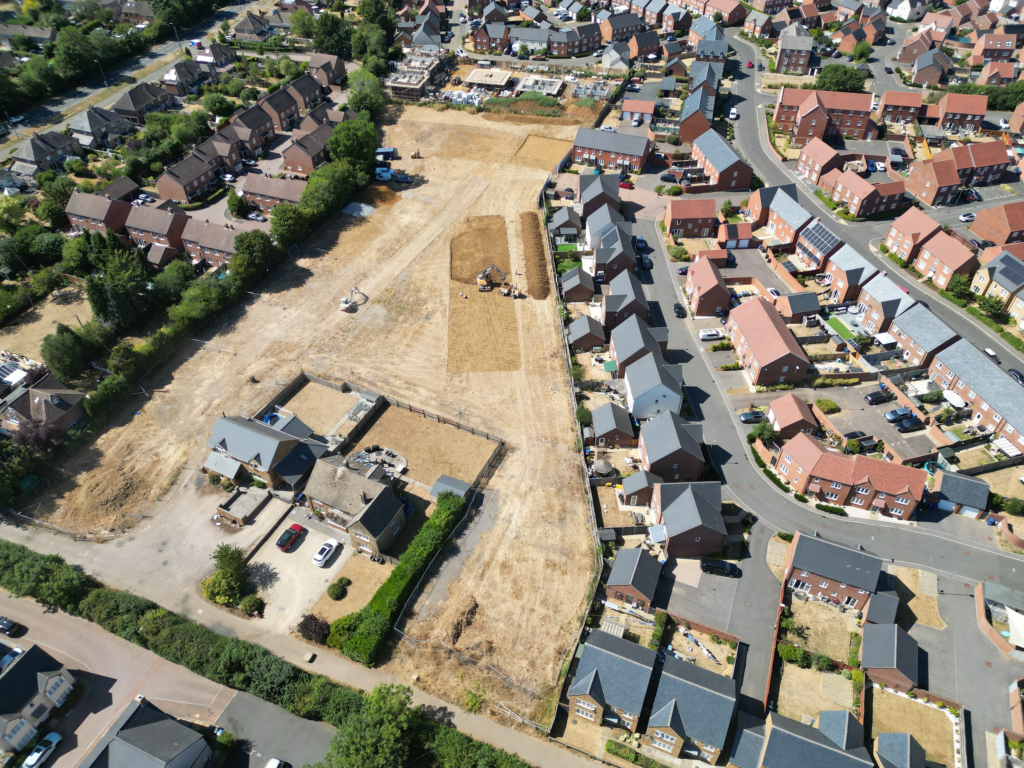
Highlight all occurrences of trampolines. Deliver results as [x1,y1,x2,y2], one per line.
[924,454,952,473]
[397,492,416,513]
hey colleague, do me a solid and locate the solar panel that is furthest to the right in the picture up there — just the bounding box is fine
[993,254,1024,281]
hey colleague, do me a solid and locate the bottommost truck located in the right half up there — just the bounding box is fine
[702,553,738,577]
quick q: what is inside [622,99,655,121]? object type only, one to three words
building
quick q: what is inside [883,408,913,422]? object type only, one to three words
car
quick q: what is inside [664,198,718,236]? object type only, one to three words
house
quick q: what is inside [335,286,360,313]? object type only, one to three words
work vehicle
